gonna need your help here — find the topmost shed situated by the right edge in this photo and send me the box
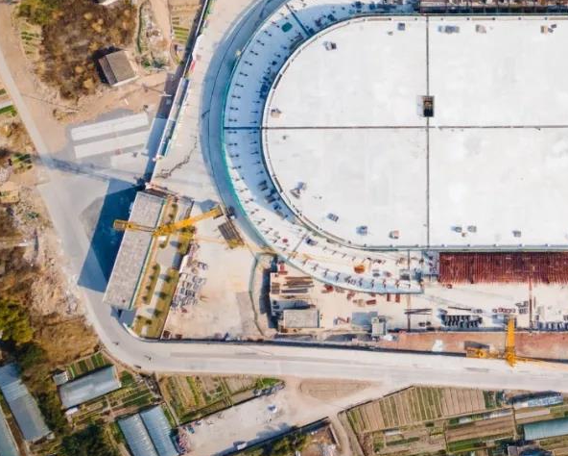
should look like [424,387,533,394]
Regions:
[514,389,563,408]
